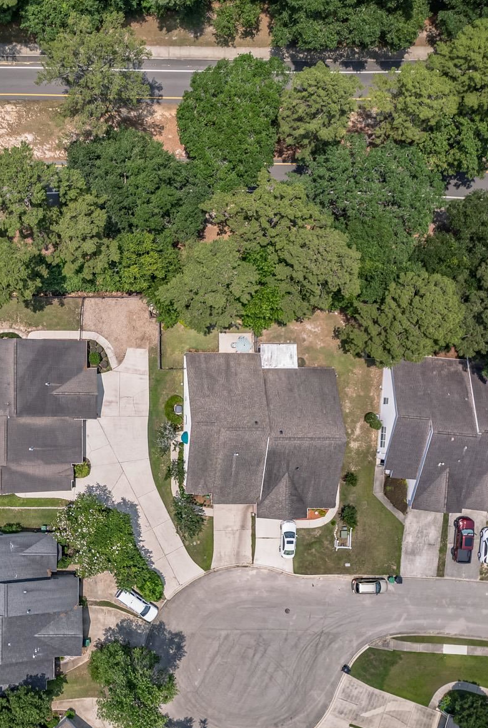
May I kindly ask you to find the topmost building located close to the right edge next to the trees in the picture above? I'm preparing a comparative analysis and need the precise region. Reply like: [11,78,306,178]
[375,356,488,513]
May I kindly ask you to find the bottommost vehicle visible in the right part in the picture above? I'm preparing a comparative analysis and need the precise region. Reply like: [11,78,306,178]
[349,576,390,596]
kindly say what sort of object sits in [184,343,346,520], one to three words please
house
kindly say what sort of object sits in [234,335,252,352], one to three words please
umbrella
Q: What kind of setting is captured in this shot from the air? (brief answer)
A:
residential area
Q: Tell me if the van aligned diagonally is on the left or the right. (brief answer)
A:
left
